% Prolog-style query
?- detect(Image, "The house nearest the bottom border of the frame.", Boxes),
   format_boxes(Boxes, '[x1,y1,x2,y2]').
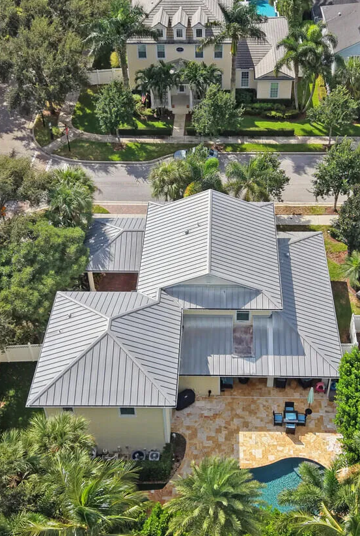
[25,190,346,452]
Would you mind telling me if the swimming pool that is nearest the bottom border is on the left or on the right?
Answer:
right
